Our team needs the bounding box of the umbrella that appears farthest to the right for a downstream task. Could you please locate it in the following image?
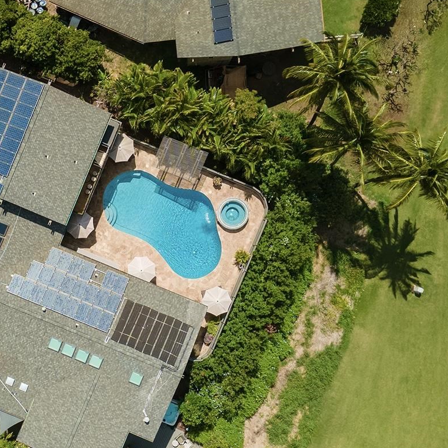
[202,287,229,315]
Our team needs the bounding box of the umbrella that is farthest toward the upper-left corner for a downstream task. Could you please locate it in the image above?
[109,134,135,163]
